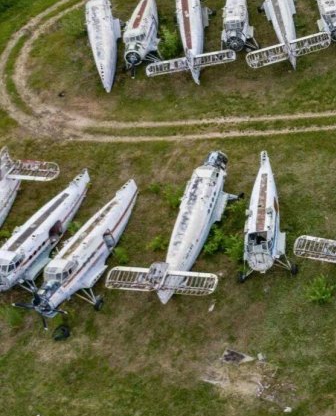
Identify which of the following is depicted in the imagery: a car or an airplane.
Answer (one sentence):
The one in the frame is an airplane.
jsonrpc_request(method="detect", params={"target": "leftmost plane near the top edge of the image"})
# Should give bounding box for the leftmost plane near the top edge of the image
[84,0,129,95]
